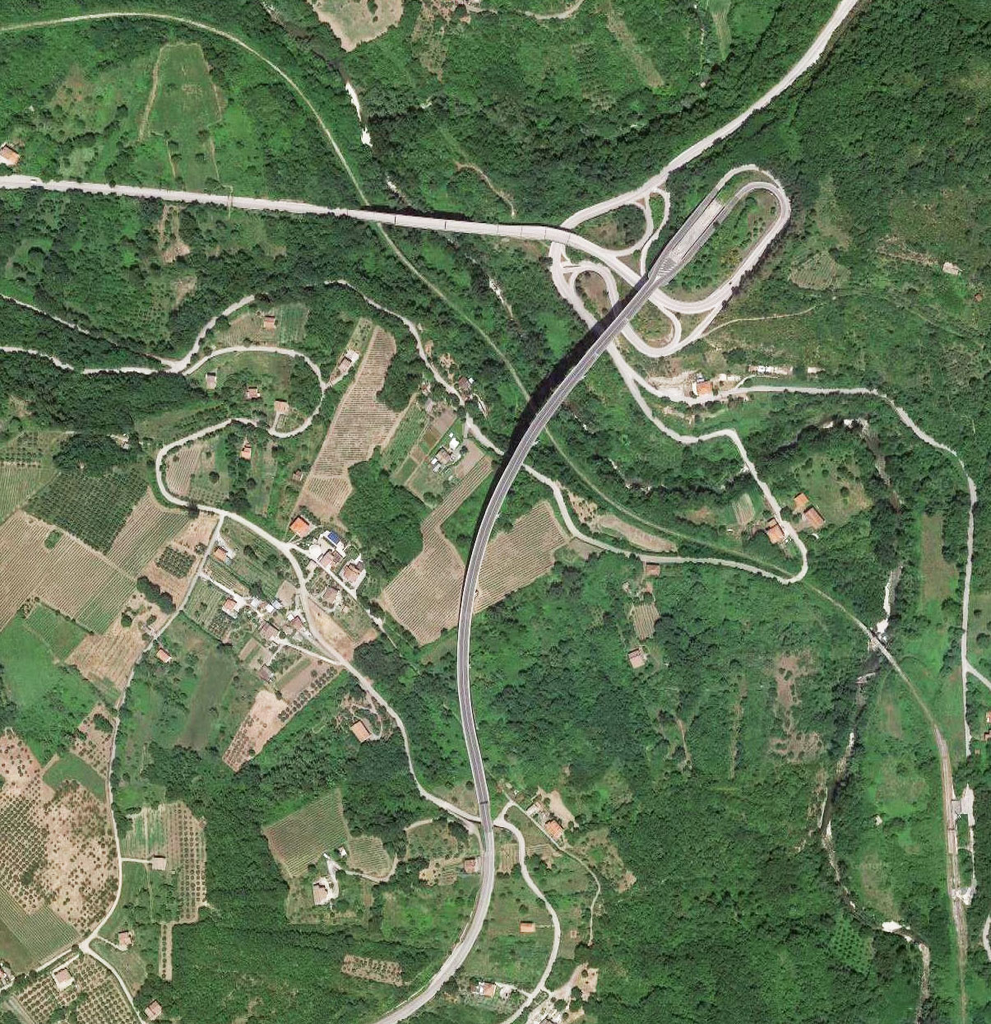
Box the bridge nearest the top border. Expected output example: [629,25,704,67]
[349,207,585,251]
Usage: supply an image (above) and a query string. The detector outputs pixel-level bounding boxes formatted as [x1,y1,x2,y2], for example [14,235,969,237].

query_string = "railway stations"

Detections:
[943,761,976,931]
